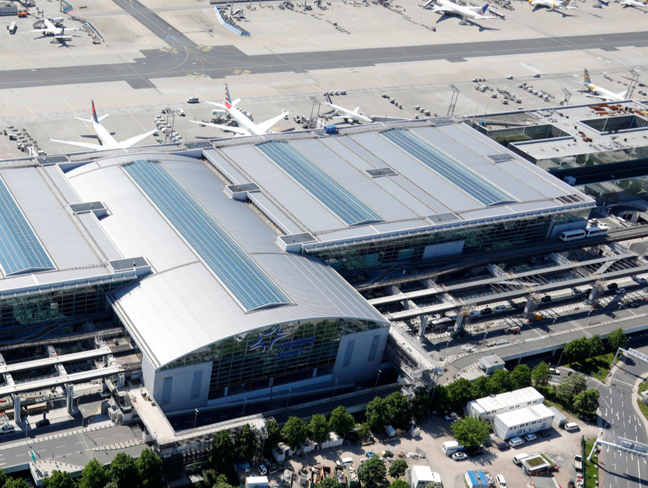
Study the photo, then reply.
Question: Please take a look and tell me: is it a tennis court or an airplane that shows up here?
airplane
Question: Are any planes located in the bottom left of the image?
No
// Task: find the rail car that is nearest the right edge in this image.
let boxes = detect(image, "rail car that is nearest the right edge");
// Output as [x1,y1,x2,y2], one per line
[588,225,615,240]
